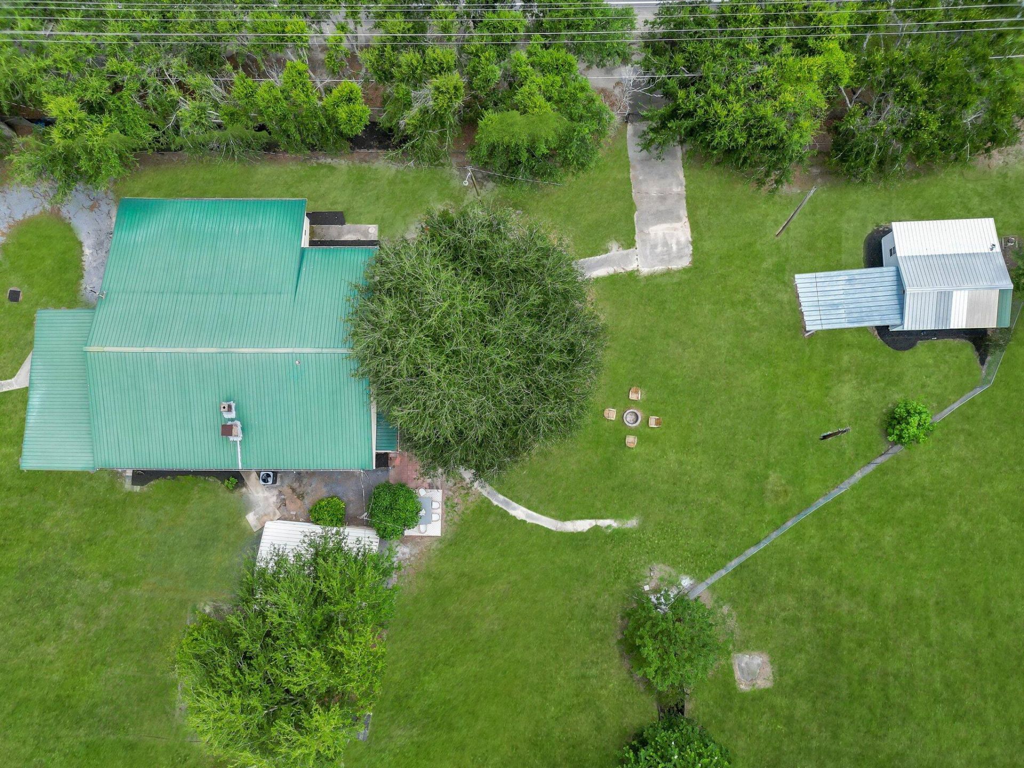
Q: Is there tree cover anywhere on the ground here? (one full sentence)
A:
Yes, tree cover shows up in the scene.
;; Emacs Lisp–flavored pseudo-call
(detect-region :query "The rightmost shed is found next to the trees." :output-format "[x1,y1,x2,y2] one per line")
[882,218,1014,330]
